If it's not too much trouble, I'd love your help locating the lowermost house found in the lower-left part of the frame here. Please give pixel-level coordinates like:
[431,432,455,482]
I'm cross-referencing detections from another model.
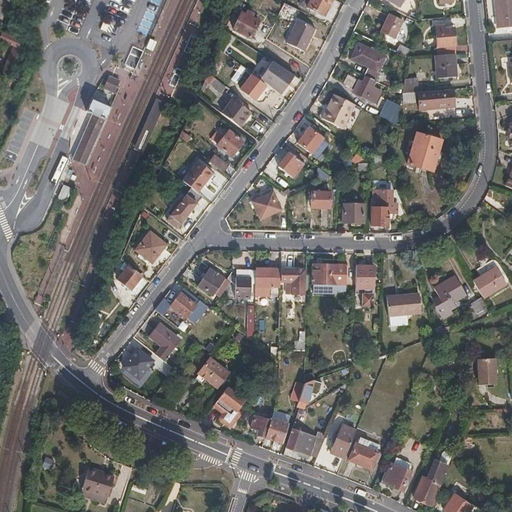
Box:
[82,468,116,506]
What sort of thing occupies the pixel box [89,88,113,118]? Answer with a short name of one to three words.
building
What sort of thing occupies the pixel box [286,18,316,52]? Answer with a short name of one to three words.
house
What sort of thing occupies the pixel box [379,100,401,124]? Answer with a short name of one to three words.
shed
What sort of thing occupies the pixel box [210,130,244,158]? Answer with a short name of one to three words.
house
